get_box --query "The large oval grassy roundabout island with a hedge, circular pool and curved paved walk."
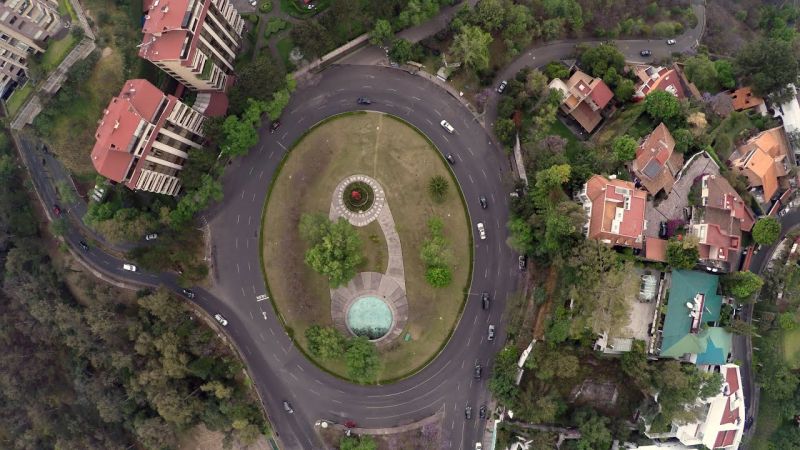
[259,109,474,384]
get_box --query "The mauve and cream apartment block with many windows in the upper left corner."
[0,0,61,96]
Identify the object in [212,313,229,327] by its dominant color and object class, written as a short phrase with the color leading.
white vehicle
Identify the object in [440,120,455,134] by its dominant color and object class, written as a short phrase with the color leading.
white vehicle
